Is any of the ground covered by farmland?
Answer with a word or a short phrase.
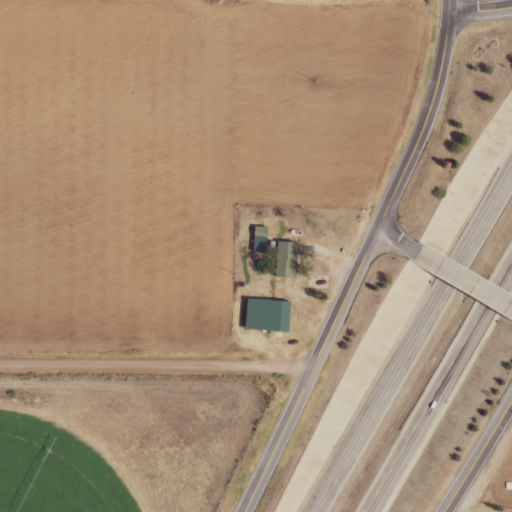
Yes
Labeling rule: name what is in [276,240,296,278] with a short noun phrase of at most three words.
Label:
house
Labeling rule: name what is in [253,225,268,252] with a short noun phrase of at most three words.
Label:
shed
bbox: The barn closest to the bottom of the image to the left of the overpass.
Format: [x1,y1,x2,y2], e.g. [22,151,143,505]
[246,298,292,332]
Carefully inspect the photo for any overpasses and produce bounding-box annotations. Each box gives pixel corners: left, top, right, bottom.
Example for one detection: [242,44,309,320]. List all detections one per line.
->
[408,242,512,321]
